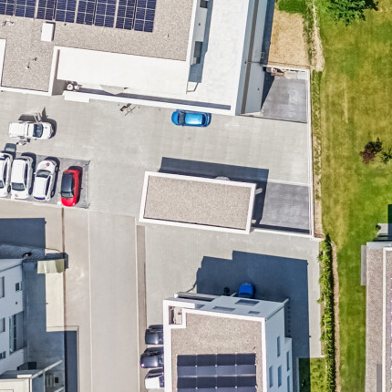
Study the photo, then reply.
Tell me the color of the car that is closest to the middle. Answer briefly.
blue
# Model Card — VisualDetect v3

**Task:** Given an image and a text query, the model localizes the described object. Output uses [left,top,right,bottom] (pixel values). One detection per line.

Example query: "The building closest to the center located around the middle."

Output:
[139,169,267,234]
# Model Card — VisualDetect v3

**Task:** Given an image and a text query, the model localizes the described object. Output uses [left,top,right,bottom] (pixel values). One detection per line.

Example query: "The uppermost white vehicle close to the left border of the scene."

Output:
[7,113,58,148]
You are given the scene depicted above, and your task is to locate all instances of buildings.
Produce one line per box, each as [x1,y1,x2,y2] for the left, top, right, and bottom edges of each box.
[0,259,66,392]
[0,0,270,114]
[139,169,267,234]
[361,232,392,392]
[163,284,300,392]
